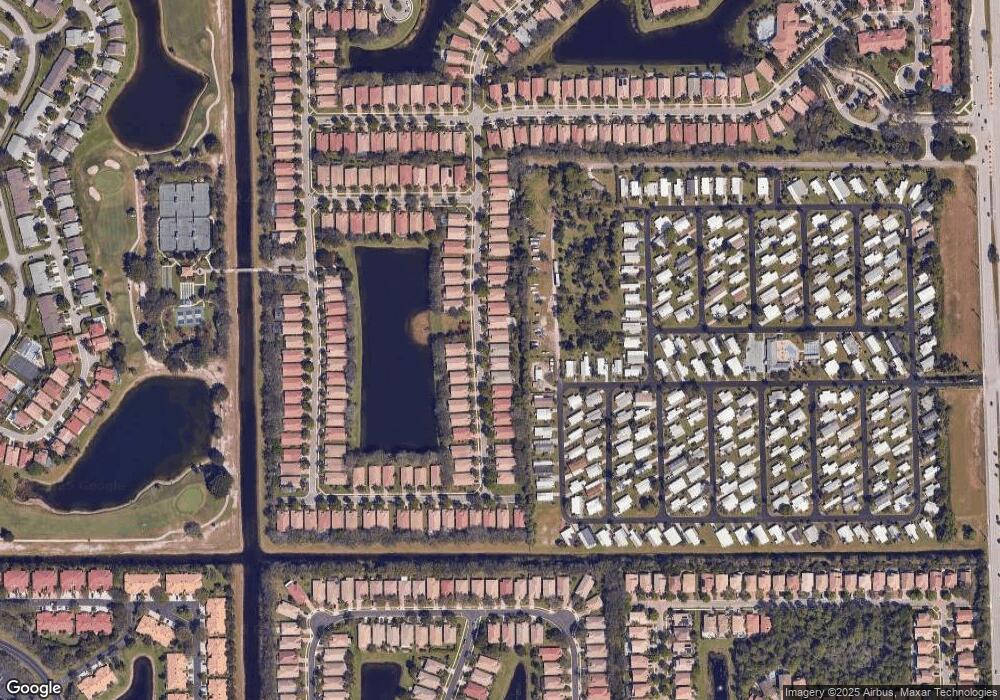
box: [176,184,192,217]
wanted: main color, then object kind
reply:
gray tennis court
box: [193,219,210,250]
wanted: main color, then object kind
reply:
gray tennis court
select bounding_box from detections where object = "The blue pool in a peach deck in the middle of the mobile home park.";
[776,340,800,363]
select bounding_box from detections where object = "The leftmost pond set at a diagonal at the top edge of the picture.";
[348,0,462,72]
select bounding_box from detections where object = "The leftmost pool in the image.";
[24,341,45,368]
